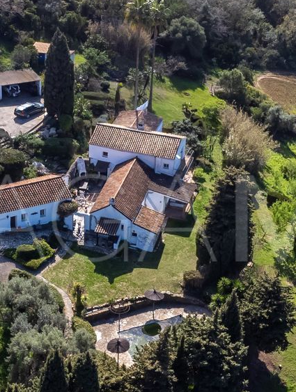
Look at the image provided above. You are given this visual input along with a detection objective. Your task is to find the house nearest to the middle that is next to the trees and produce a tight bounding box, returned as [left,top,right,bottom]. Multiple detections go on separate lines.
[73,108,199,260]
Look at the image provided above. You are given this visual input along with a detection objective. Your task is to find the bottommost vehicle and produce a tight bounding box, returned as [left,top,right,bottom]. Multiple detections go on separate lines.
[12,99,46,115]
